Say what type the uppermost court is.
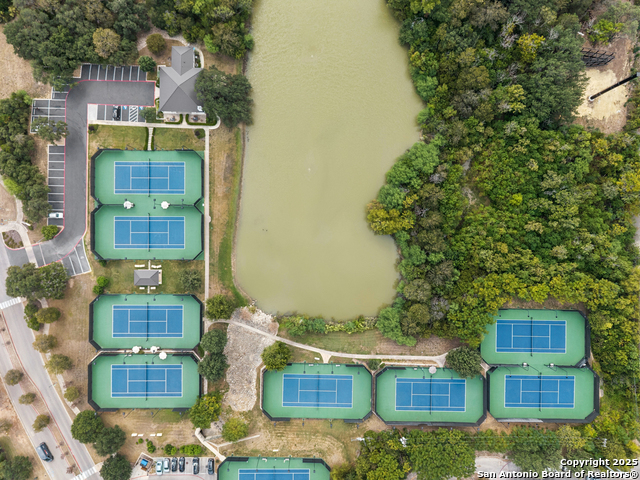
tennis court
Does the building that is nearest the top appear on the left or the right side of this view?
left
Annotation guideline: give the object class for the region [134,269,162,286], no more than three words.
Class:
building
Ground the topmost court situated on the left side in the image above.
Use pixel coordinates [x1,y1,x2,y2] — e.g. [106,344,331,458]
[95,150,204,205]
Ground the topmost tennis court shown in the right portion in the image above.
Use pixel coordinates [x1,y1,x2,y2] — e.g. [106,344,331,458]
[483,311,585,366]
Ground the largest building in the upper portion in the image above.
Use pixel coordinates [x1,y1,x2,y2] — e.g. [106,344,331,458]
[160,46,206,116]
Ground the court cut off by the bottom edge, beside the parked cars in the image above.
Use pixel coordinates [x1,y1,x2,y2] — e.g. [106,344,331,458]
[219,459,330,480]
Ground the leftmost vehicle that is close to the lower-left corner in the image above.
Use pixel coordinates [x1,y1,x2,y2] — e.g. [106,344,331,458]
[36,441,51,459]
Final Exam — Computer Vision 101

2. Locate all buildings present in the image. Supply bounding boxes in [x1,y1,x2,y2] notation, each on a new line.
[160,46,206,116]
[134,269,162,286]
